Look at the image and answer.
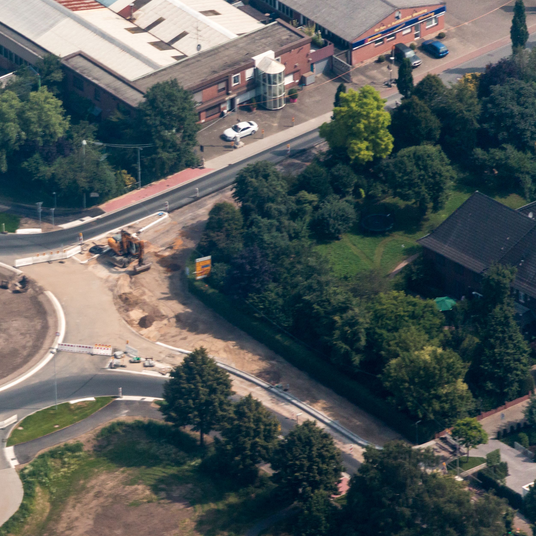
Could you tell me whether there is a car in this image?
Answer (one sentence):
Yes, this view includes a car.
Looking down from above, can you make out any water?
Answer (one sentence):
No, the picture contains no water.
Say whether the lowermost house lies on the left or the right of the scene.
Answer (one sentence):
The lowermost house is on the right side of the image.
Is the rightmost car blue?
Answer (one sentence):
Yes, the rightmost car is indeed blue.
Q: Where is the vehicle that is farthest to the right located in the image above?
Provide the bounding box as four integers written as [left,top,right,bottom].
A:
[419,38,452,58]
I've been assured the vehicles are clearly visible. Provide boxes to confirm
[419,38,452,58]
[221,119,260,140]
[392,35,428,62]
[102,233,153,273]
